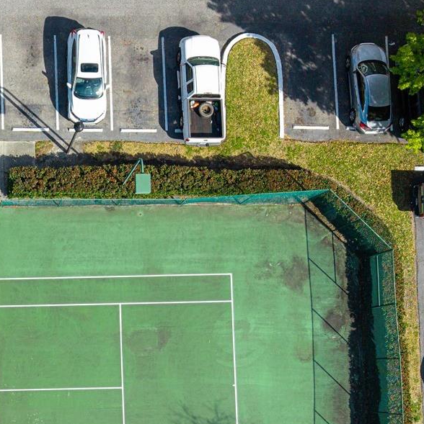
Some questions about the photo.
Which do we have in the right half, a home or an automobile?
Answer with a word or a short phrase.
automobile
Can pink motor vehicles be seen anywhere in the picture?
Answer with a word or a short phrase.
No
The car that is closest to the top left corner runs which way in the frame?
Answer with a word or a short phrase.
up and down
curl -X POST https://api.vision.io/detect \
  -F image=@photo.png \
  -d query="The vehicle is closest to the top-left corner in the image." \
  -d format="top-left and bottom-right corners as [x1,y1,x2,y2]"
[63,23,112,127]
